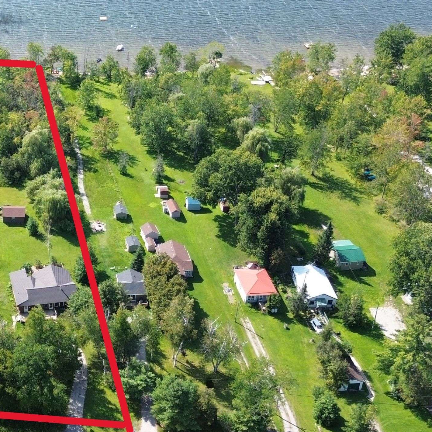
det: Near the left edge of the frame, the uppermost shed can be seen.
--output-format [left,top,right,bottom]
[0,205,26,223]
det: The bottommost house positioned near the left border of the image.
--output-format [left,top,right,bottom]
[9,261,79,331]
